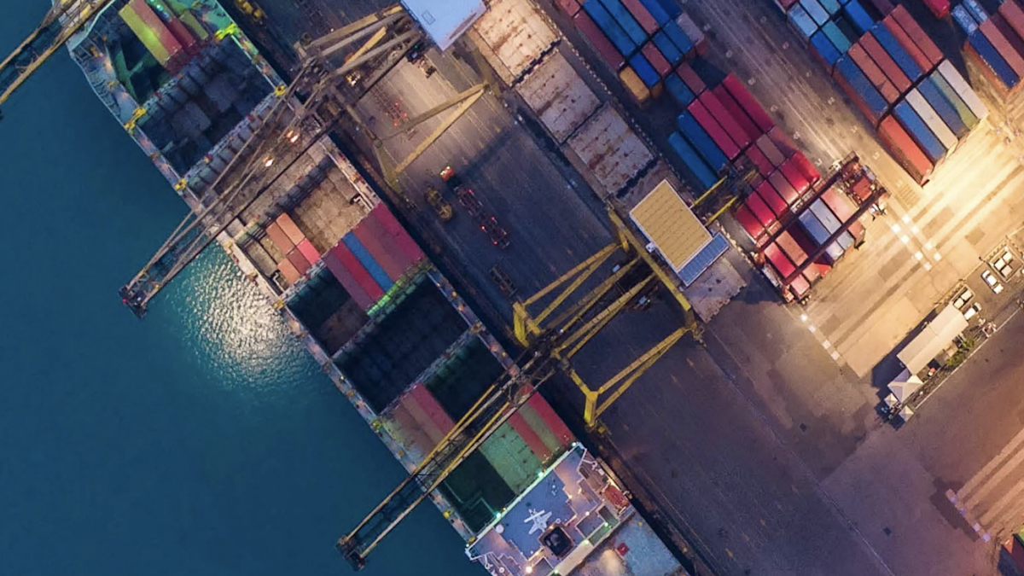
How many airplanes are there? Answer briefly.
0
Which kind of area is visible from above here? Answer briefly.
port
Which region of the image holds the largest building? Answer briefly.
right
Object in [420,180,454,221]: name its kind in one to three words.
work vehicle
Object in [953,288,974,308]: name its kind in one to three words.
car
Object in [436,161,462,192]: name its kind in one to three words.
truck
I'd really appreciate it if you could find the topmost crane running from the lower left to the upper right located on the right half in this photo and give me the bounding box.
[751,147,898,306]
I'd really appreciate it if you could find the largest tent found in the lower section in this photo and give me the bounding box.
[884,367,922,406]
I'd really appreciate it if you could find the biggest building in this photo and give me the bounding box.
[896,302,971,377]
